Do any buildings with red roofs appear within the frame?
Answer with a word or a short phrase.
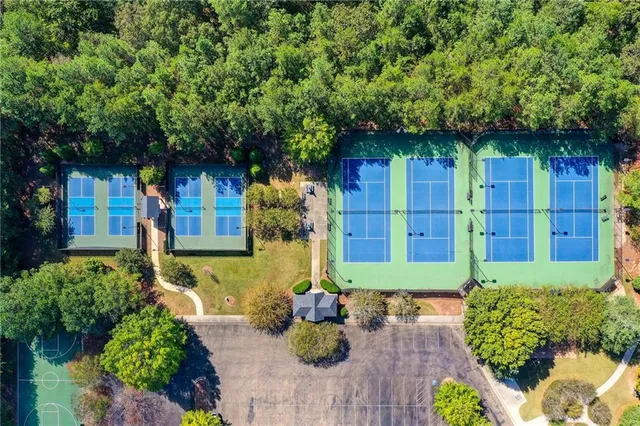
No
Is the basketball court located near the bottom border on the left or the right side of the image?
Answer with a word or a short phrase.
left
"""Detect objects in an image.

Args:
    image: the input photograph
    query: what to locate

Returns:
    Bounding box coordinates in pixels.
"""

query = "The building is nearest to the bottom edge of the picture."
[293,292,337,322]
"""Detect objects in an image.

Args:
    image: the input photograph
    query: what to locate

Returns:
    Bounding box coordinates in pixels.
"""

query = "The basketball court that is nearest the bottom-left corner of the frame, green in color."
[16,319,86,426]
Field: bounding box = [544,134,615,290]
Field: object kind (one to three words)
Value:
tennis court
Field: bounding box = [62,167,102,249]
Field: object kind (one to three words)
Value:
sports court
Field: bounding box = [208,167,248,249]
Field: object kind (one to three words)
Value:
sports court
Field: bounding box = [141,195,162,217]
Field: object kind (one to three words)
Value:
building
